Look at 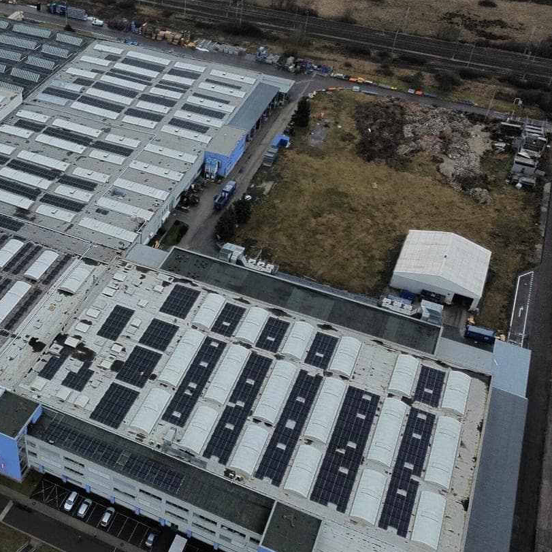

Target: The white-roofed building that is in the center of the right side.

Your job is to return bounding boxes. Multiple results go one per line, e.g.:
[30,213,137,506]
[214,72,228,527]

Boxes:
[391,231,490,312]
